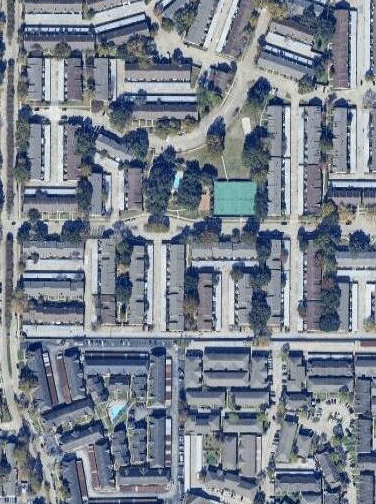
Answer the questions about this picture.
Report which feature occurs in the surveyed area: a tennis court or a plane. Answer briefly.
tennis court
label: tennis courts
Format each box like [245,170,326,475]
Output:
[213,181,255,216]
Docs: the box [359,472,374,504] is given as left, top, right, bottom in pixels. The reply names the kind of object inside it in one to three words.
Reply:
building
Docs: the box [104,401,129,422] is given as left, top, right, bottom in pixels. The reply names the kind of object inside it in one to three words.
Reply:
swimming pool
